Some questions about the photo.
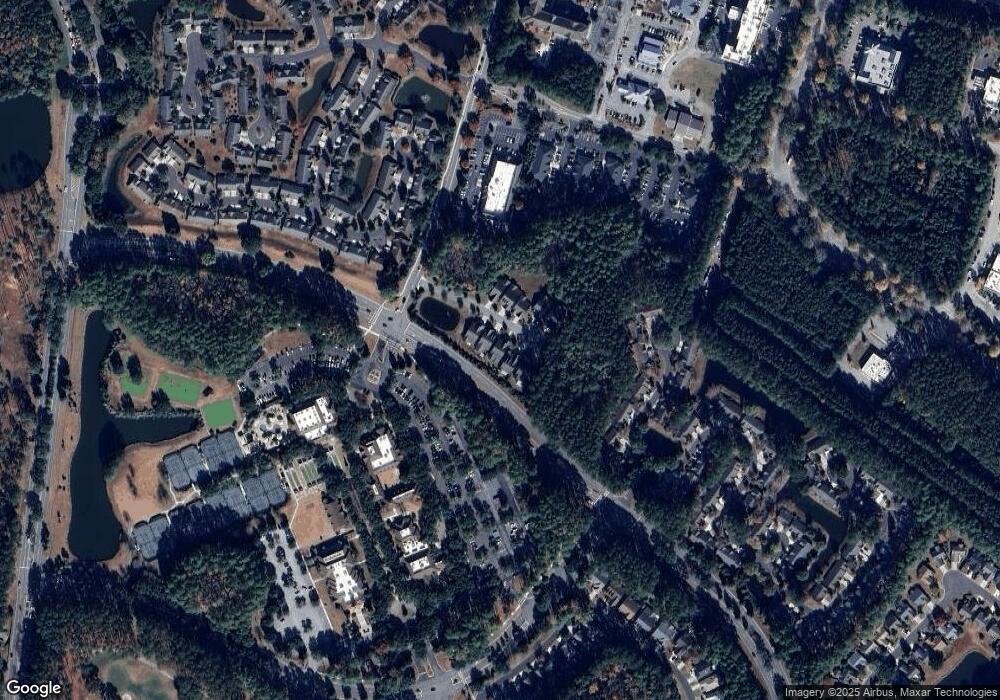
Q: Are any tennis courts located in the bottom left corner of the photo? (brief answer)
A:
Yes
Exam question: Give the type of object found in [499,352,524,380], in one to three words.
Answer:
house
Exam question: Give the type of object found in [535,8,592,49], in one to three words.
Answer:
building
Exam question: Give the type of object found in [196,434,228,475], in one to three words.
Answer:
tennis court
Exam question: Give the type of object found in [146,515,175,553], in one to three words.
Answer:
tennis court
